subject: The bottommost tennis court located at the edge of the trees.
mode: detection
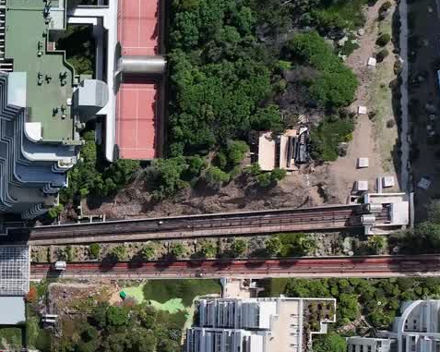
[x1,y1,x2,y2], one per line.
[89,81,154,173]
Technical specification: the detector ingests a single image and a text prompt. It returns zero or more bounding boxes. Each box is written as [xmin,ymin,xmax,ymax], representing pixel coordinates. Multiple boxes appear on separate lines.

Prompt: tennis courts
[114,0,154,75]
[89,81,154,173]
